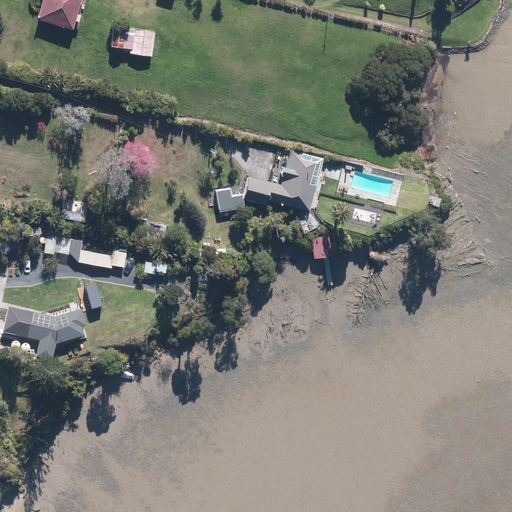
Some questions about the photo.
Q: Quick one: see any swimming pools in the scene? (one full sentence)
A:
Yes, this view includes a swimming pool.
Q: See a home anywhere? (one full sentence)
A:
Yes, there is a home in the image.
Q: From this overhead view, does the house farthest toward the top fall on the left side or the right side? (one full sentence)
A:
You can find the house farthest toward the top on the left side of the picture.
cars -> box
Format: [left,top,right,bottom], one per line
[124,259,135,276]
[24,260,31,274]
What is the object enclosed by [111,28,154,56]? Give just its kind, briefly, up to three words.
shed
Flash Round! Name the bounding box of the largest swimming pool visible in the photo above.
[338,164,403,206]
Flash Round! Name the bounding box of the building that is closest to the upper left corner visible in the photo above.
[38,0,84,29]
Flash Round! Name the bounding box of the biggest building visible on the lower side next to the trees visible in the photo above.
[2,306,88,356]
